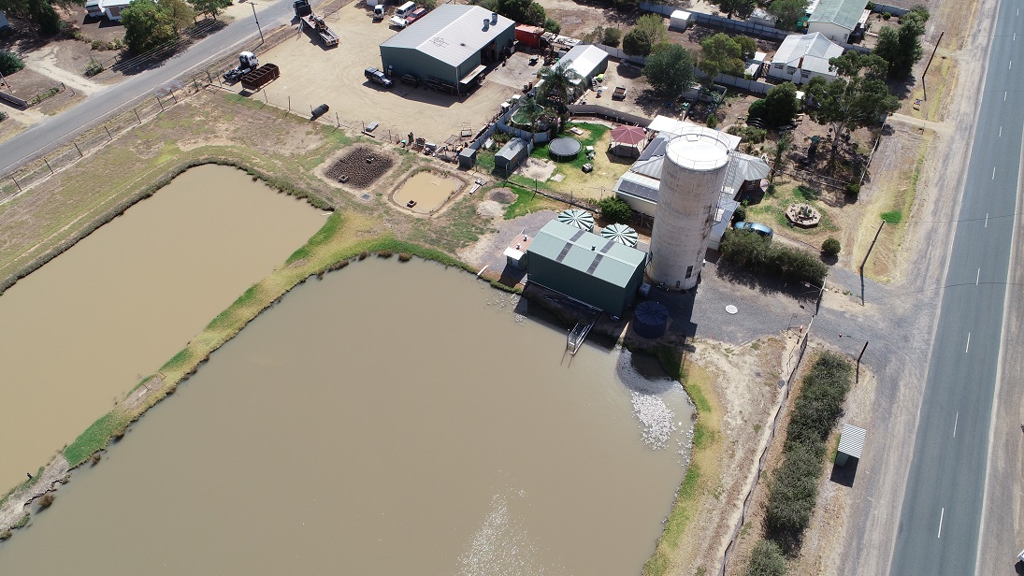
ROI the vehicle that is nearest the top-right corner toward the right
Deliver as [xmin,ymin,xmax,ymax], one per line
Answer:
[735,221,775,244]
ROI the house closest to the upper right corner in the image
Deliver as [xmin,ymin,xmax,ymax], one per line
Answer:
[805,0,870,43]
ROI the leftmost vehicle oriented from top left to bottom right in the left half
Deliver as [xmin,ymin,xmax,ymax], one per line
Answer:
[282,0,341,44]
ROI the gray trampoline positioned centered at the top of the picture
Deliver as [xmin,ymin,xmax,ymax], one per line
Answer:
[549,138,581,160]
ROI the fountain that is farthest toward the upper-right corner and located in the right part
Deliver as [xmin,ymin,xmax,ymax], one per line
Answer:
[785,206,820,229]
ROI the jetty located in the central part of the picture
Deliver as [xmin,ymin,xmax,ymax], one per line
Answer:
[568,323,607,360]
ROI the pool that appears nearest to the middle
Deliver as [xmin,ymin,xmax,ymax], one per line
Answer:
[510,110,543,136]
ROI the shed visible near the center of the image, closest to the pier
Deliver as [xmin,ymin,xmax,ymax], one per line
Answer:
[525,219,649,318]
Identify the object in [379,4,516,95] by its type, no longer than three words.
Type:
building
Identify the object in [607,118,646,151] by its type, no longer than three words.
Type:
gazebo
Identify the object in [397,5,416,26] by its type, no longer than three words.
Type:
vehicle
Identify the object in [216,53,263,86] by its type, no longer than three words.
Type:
truck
